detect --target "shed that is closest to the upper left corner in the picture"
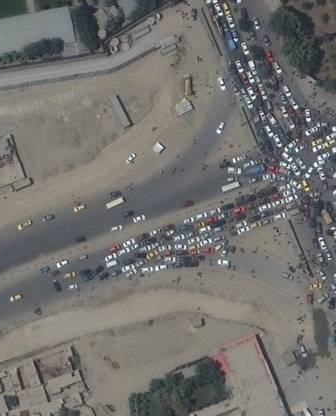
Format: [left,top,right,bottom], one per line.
[0,7,74,56]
